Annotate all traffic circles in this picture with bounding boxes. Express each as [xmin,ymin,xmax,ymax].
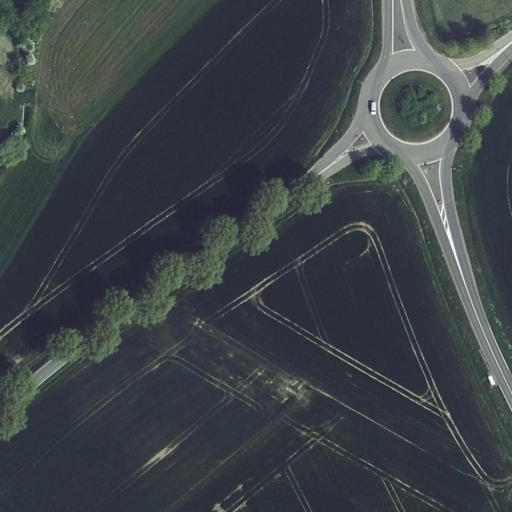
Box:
[359,50,473,164]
